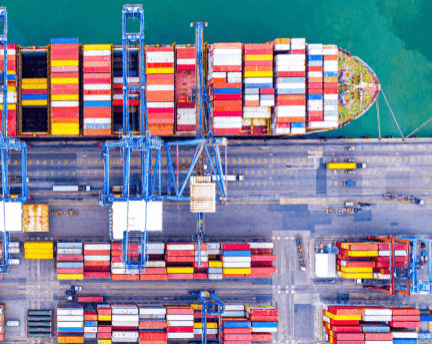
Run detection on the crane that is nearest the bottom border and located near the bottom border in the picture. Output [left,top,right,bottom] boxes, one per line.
[188,291,232,344]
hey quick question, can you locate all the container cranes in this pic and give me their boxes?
[87,0,168,274]
[152,19,224,266]
[381,235,432,299]
[188,291,232,344]
[356,235,412,299]
[0,1,34,274]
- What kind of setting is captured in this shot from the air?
port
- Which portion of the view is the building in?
bottom right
